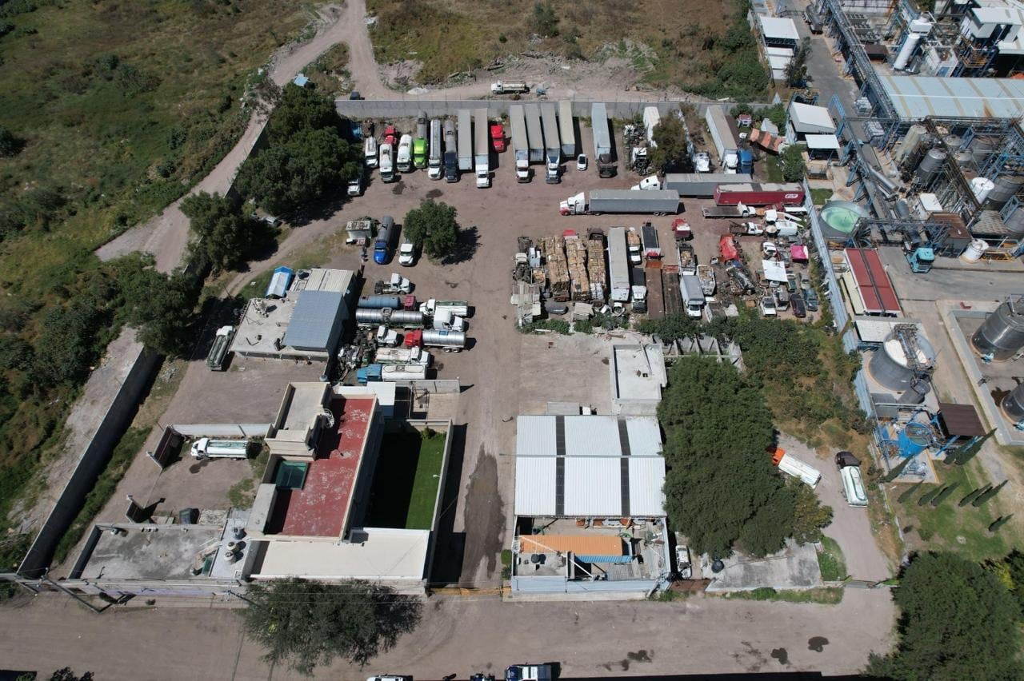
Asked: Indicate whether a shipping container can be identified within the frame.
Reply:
Yes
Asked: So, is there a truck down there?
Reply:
Yes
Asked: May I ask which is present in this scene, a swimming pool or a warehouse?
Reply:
warehouse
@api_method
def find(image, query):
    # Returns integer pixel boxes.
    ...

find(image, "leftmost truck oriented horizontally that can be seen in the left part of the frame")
[187,441,251,465]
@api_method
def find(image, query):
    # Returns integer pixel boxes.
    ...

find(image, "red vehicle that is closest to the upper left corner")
[382,121,398,147]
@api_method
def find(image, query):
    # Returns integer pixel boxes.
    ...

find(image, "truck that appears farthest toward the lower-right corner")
[836,450,877,508]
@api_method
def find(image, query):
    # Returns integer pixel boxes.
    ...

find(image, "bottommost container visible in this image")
[525,536,630,561]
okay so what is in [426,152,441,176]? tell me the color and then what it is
white vehicle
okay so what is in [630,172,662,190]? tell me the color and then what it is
white vehicle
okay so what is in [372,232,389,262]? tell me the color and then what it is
blue vehicle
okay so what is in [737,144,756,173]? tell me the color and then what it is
blue vehicle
